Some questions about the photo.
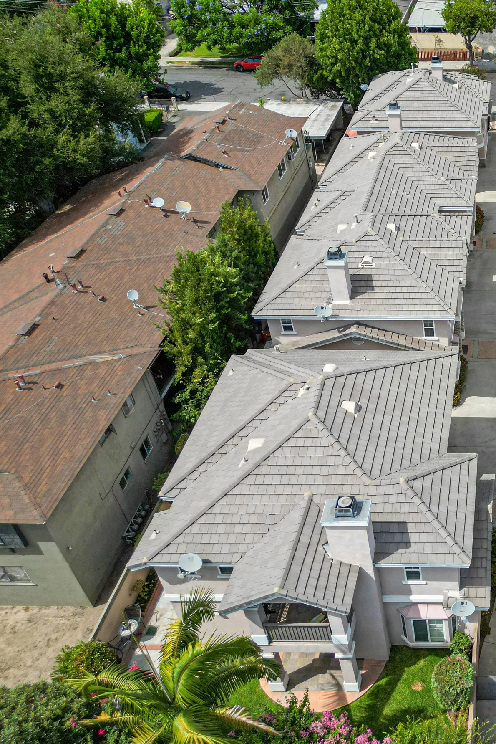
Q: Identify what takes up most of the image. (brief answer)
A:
buildings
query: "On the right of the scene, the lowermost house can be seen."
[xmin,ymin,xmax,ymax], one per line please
[129,344,495,693]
